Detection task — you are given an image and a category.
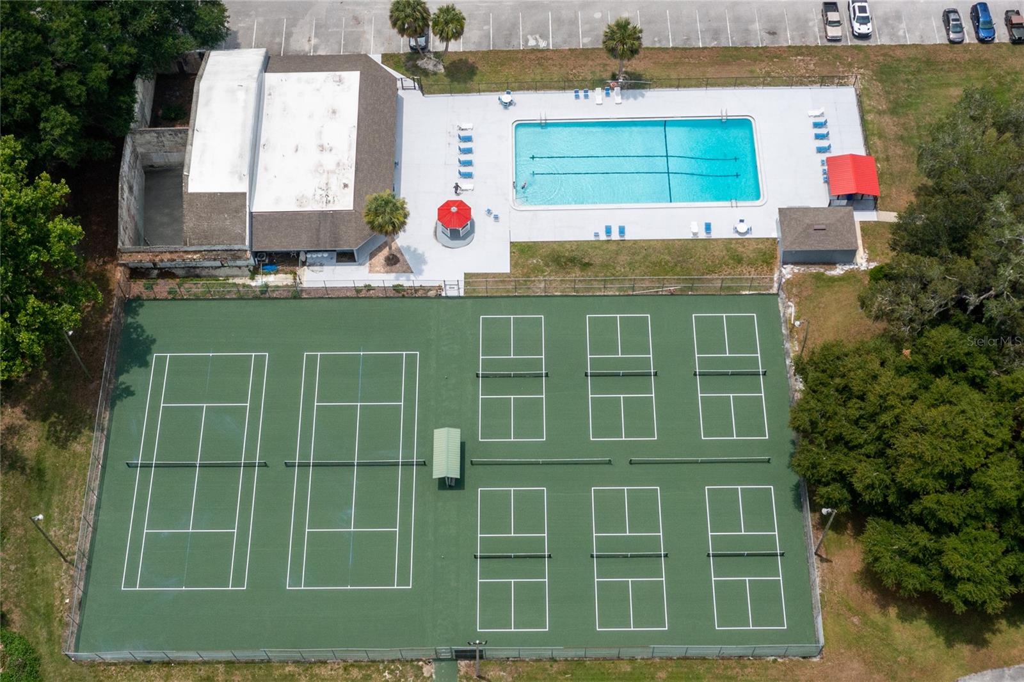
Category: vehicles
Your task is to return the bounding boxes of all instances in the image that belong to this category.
[941,7,965,43]
[1002,5,1024,44]
[971,2,996,41]
[820,2,842,40]
[847,0,872,37]
[411,14,429,50]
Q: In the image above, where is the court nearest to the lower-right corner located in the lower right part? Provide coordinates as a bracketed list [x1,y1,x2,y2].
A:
[704,485,788,630]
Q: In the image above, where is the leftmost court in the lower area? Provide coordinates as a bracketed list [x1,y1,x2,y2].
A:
[120,351,270,591]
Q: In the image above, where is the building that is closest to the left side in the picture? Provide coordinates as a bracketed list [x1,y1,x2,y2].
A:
[183,48,269,253]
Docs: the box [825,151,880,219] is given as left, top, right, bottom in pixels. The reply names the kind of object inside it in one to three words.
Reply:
building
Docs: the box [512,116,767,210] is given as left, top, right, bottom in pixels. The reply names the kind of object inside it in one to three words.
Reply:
swimming pool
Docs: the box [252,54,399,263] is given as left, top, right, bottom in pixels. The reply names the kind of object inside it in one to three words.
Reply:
building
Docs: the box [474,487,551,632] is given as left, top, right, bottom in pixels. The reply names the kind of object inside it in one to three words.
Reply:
sports court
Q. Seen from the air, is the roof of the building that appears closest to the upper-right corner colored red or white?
red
